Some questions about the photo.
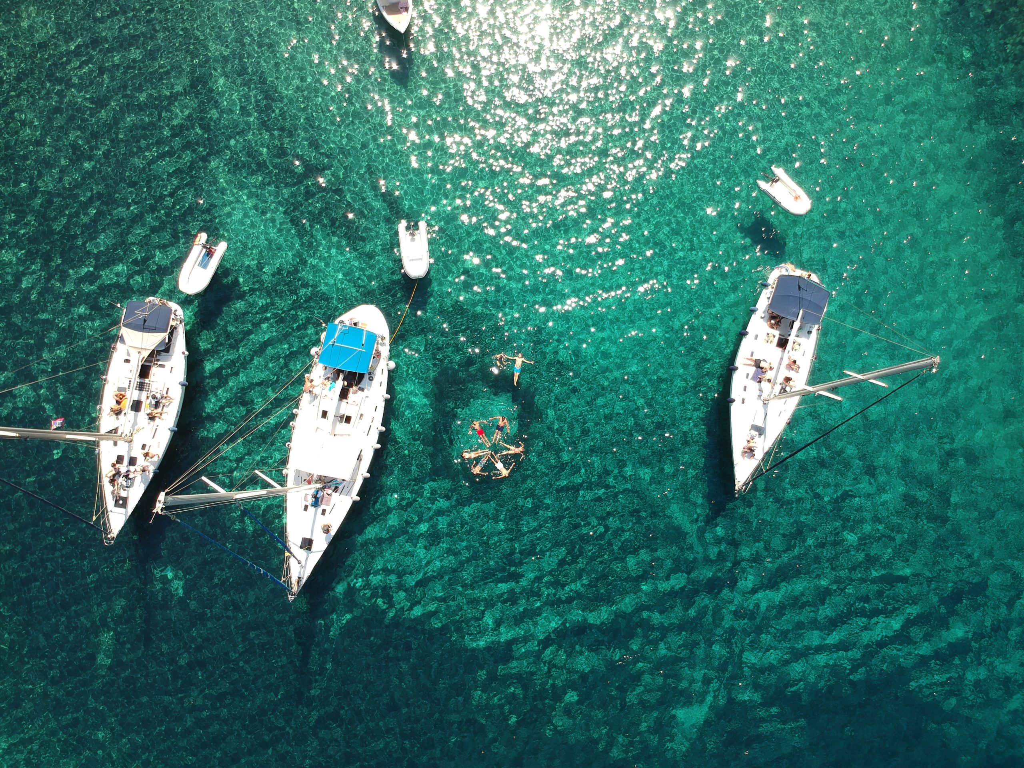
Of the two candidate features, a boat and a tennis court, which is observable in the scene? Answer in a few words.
boat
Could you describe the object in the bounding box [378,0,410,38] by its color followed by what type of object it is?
white boat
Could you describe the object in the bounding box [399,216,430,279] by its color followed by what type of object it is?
white boat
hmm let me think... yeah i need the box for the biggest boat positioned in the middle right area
[729,260,947,497]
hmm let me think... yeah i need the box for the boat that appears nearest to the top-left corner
[179,231,227,296]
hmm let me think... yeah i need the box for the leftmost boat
[0,297,191,545]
